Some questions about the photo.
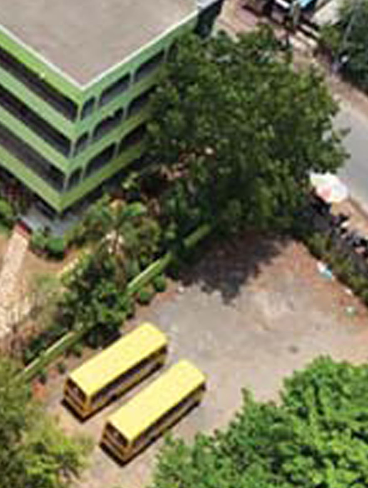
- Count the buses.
2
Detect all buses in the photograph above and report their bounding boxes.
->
[59,323,168,421]
[95,359,208,459]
